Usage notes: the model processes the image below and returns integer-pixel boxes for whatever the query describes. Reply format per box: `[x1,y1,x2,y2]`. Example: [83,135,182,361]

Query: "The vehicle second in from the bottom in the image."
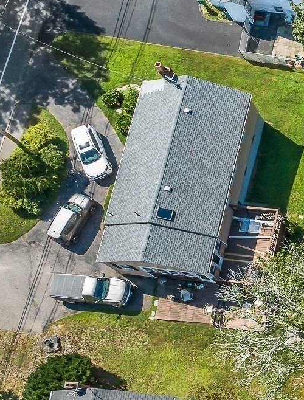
[45,192,102,247]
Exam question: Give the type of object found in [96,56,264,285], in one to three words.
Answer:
house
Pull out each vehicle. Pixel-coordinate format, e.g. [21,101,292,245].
[72,126,115,182]
[45,192,102,247]
[52,274,131,305]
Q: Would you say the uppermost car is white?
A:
Yes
